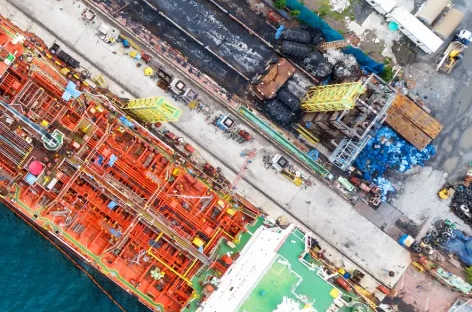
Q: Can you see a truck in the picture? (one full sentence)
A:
Yes, there's a truck here.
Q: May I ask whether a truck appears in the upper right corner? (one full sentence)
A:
Yes, you'll find a truck in the upper right corner.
